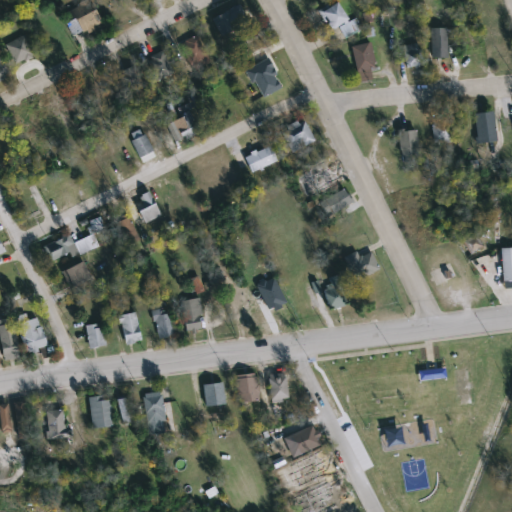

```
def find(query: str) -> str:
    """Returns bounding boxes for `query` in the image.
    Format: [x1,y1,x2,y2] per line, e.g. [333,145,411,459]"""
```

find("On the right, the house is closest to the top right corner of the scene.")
[432,27,449,58]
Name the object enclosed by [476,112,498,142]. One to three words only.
house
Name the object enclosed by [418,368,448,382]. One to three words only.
building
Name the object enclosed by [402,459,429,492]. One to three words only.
basketball court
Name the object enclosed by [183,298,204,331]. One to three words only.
house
